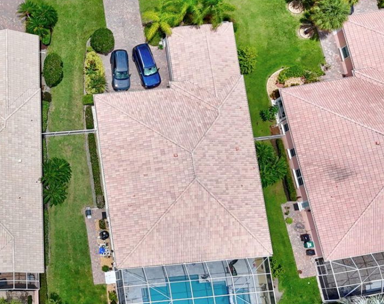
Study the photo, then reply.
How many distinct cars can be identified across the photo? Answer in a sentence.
In total, there are 2 cars in the scene.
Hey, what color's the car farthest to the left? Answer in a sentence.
The color of the car farthest to the left is blue.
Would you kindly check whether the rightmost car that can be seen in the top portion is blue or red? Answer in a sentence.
From above, the rightmost car that can be seen in the top portion appears blue.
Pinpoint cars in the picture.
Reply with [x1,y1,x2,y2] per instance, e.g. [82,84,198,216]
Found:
[133,45,159,87]
[110,50,131,89]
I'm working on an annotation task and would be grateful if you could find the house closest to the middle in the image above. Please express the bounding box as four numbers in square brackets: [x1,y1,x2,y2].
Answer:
[92,20,277,271]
